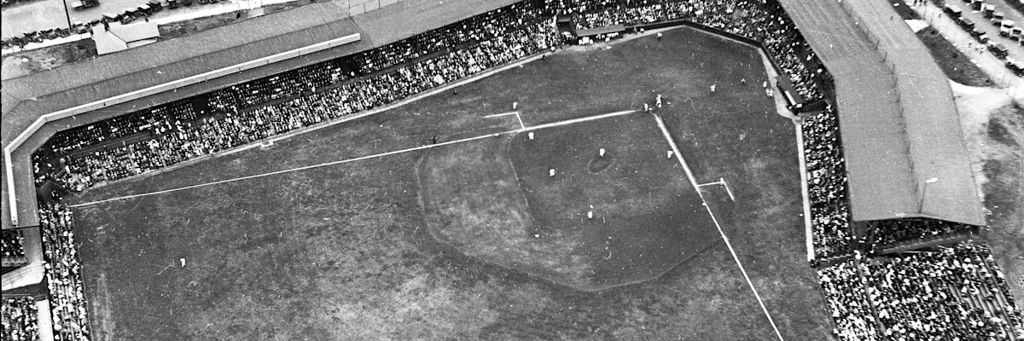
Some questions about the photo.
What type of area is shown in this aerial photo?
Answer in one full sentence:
This looks like a sports ground.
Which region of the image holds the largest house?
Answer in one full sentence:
You can find the largest house in the top left area of the picture.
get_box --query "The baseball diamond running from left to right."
[69,27,835,341]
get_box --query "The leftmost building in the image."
[90,8,166,56]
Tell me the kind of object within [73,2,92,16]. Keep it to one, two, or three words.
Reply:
car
